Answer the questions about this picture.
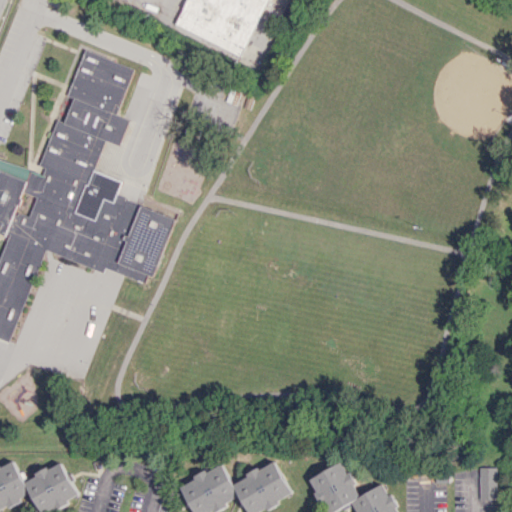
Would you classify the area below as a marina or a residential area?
residential area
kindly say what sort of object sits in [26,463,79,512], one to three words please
house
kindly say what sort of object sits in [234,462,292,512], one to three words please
house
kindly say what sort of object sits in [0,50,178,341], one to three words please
building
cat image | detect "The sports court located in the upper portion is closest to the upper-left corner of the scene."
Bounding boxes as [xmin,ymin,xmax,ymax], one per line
[159,136,210,204]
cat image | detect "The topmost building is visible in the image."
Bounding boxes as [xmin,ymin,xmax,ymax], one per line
[176,0,269,56]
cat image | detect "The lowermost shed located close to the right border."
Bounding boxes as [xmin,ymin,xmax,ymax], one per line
[480,468,498,503]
